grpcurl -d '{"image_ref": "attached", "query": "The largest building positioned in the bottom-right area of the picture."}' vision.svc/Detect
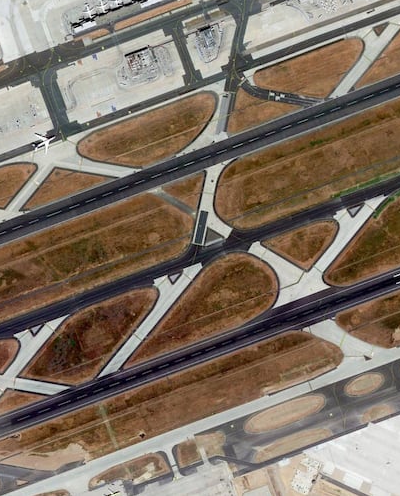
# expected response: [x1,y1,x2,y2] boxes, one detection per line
[293,458,322,492]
